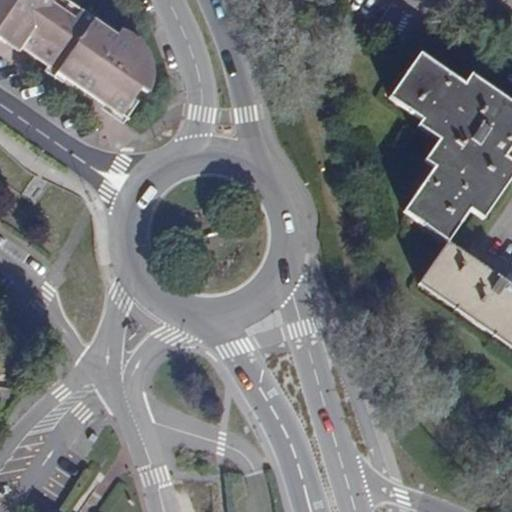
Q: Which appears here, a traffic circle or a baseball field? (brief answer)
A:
traffic circle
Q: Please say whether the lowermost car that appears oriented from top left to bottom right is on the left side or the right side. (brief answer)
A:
left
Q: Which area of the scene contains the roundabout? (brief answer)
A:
center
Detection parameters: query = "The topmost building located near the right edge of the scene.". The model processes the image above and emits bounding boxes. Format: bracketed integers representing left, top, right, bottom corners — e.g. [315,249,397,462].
[386,51,512,242]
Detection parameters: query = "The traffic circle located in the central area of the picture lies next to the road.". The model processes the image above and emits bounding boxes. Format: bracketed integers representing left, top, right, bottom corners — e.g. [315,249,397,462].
[108,135,320,344]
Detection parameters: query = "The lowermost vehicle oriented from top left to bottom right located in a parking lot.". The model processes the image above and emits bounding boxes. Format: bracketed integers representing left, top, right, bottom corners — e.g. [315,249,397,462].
[60,457,83,476]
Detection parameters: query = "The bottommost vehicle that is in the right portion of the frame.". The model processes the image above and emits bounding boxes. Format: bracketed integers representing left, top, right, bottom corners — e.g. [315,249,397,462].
[319,410,334,432]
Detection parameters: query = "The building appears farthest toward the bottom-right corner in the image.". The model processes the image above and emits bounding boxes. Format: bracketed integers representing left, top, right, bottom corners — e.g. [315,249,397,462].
[416,240,512,351]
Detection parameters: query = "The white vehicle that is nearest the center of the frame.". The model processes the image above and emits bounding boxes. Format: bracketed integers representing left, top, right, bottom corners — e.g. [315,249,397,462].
[282,212,295,233]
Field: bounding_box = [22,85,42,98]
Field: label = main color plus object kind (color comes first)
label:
white vehicle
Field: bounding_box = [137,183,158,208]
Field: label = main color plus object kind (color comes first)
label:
white vehicle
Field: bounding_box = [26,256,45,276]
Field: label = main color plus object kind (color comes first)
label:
white car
